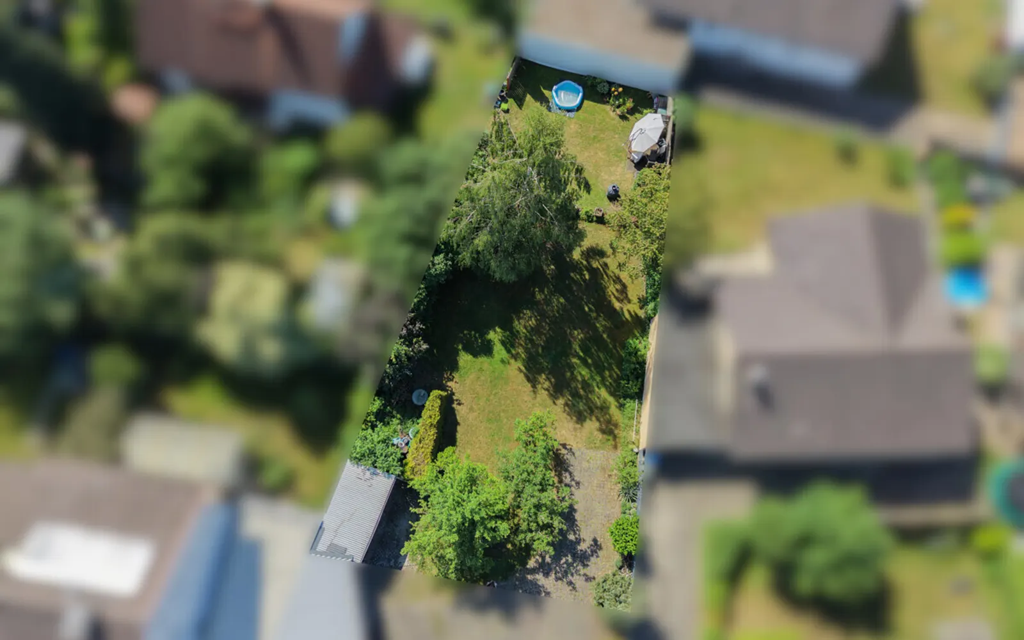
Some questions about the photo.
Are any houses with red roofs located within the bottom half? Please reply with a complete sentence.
No, no house with a red roof is visible within the bottom half.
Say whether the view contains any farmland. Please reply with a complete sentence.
No, there is no farmland in the image.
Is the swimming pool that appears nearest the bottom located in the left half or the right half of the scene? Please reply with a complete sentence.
The swimming pool that appears nearest the bottom sits on the right side.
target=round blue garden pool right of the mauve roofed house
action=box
[936,264,987,309]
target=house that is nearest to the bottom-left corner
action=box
[0,455,238,640]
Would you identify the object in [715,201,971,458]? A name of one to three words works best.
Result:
house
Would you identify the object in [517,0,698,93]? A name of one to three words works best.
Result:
shed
